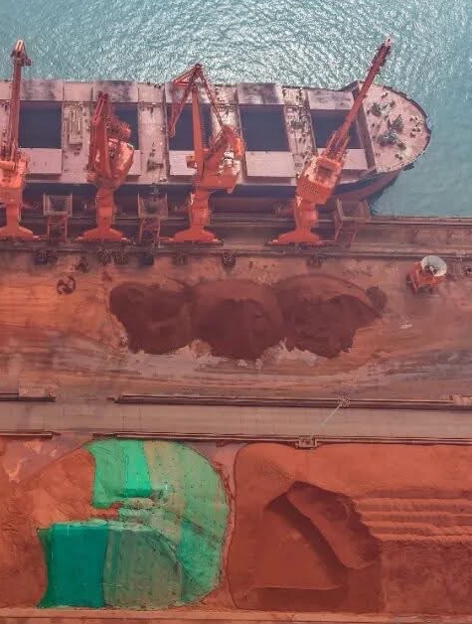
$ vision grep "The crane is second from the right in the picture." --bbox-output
[165,63,251,243]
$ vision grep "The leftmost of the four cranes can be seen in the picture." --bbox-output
[0,26,43,238]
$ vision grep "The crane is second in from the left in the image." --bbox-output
[76,88,137,241]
